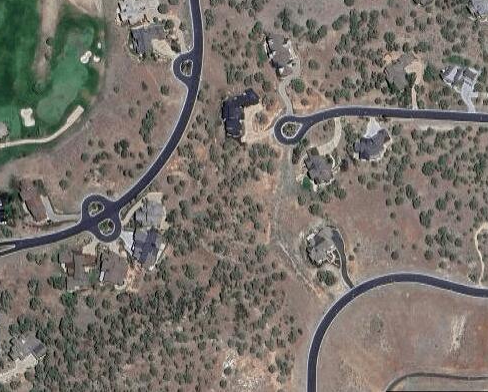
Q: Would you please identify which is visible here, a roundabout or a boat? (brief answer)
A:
roundabout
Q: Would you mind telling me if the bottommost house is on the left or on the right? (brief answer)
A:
left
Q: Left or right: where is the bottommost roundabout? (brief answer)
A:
left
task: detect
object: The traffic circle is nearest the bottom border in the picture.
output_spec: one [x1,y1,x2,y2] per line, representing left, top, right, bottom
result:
[72,193,127,242]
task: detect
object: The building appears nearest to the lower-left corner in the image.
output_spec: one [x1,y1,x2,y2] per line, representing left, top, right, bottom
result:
[10,330,48,361]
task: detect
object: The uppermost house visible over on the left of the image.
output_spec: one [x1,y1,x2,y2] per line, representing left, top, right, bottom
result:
[117,0,160,24]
